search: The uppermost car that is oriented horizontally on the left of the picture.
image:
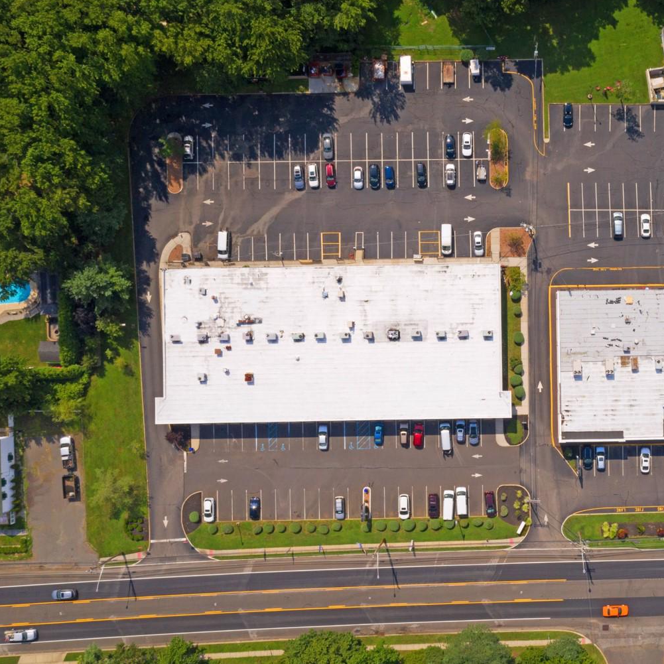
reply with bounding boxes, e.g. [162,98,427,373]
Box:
[52,587,80,601]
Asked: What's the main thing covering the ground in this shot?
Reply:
paved ground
